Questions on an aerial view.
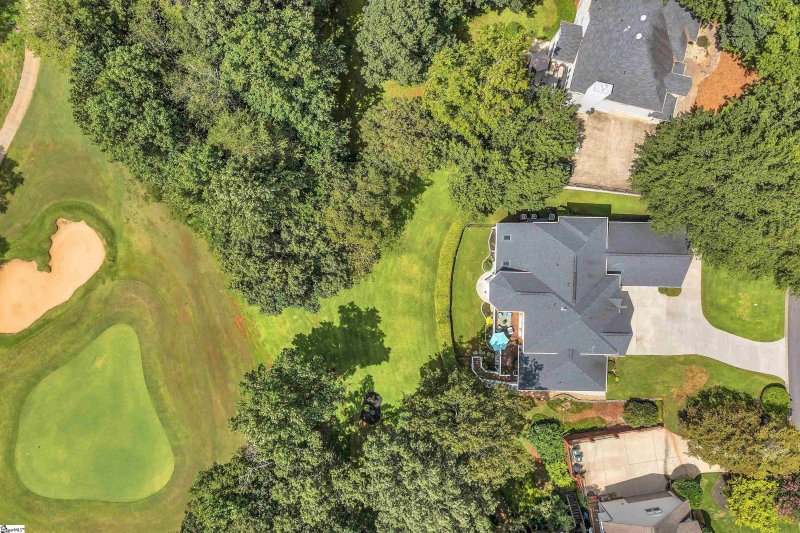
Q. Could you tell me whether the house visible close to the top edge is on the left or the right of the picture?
right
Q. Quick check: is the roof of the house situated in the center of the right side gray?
Yes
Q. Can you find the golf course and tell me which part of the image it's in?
left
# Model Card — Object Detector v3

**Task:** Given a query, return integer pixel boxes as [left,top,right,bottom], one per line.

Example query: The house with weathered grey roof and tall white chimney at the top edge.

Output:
[548,0,701,124]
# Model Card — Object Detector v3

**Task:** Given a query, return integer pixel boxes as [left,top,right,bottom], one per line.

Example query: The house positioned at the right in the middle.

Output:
[484,216,690,393]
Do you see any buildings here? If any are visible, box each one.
[548,0,701,124]
[484,216,690,393]
[591,491,702,533]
